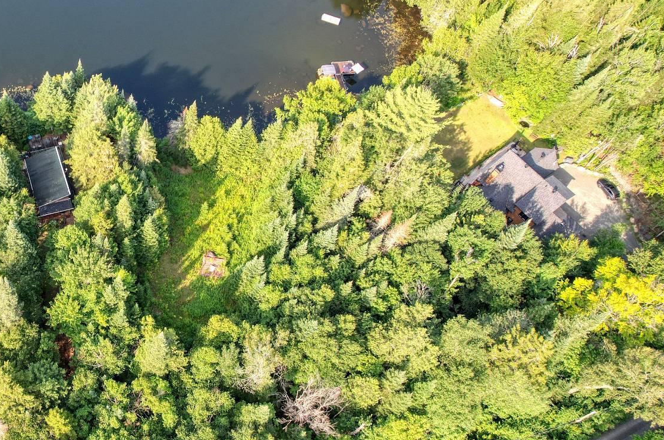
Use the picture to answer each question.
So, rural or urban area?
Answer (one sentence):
The area shown here is rural.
